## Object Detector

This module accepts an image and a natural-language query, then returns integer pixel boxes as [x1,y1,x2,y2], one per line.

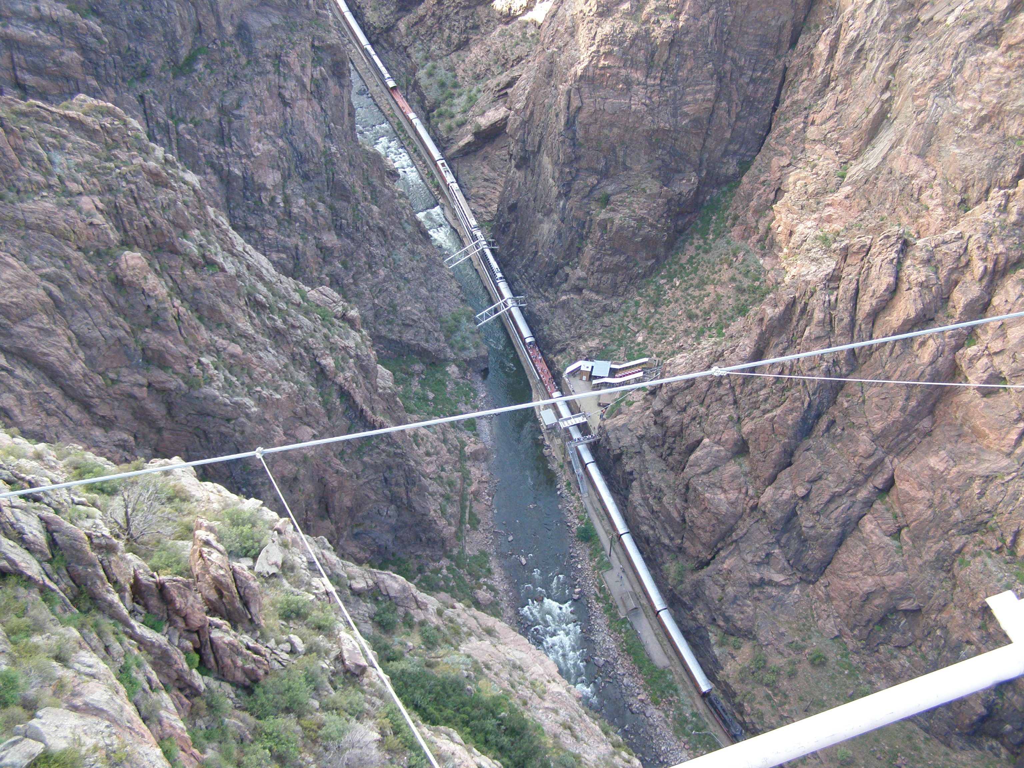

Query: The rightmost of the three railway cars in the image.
[701,694,740,747]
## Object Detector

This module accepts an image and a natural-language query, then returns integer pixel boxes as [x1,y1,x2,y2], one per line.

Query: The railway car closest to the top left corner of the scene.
[387,80,418,125]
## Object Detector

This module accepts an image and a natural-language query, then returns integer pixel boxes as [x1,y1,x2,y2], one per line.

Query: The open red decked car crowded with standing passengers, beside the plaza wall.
[525,336,561,398]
